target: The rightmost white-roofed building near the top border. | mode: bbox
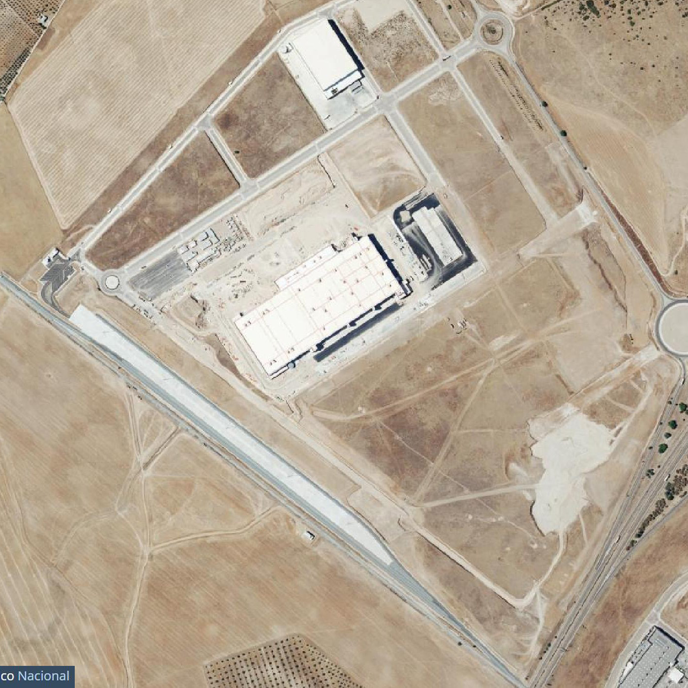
[291,20,363,99]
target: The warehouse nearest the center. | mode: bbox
[234,234,410,380]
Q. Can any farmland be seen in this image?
Yes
